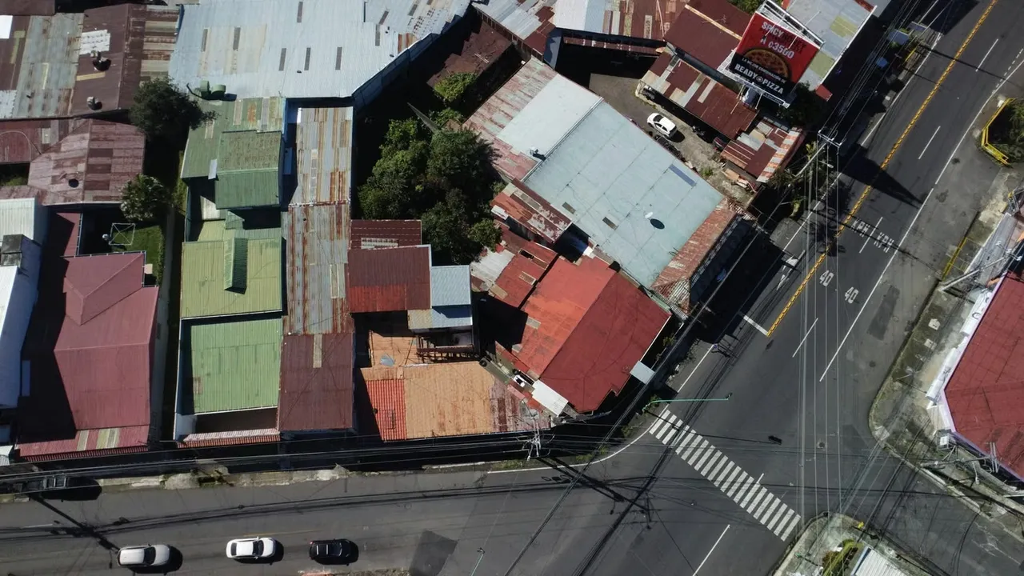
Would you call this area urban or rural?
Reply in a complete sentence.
From above, the setting appears urban.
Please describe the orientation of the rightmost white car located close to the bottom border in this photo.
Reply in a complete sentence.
The rightmost white car located close to the bottom border is laid out from left to right.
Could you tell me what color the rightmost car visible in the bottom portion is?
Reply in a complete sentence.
The rightmost car visible in the bottom portion looks black in the image.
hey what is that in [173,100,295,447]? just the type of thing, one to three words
house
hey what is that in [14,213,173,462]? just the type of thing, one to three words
house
